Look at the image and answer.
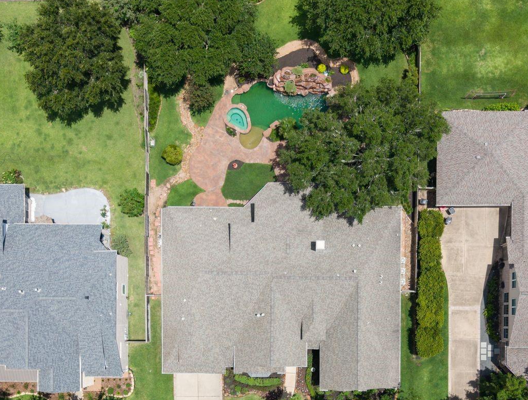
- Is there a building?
Yes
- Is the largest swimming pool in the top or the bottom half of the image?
top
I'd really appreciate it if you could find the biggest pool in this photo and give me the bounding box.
[232,81,327,149]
